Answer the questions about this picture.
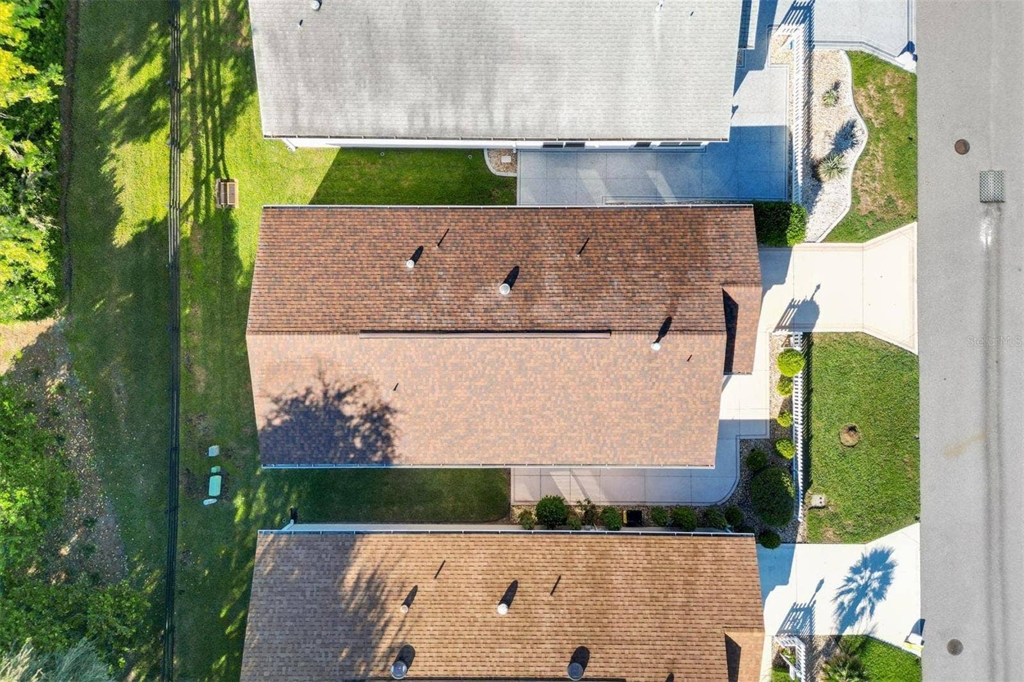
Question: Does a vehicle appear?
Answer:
No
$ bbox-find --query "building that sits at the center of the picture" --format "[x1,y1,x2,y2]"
[247,202,761,470]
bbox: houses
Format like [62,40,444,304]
[247,202,761,470]
[244,504,768,682]
[251,0,763,156]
